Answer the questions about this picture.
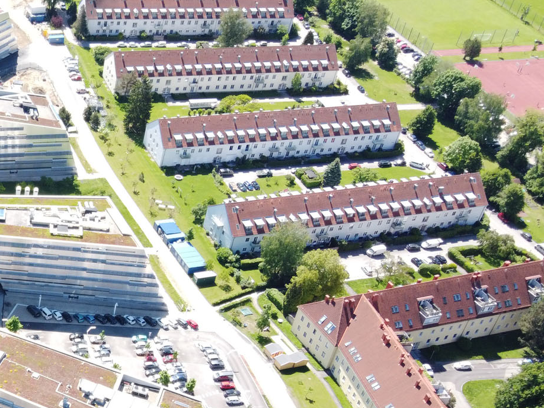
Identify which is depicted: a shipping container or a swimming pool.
shipping container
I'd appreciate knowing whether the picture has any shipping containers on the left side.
Yes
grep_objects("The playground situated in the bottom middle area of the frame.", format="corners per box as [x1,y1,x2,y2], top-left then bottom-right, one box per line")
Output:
[234,305,284,337]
